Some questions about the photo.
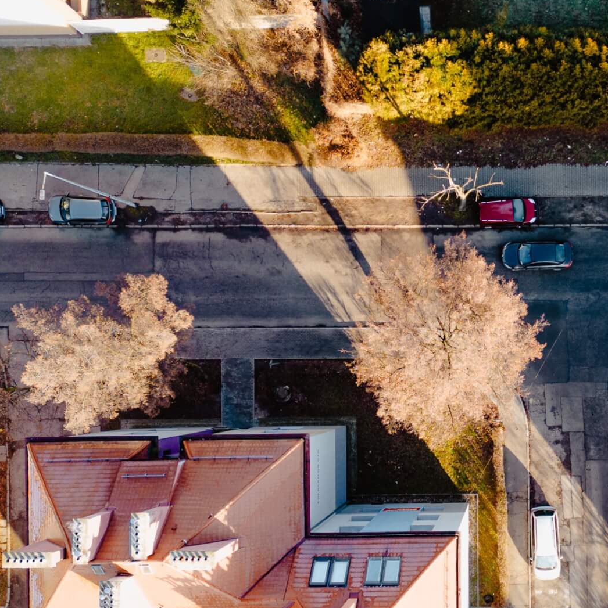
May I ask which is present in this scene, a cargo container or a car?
car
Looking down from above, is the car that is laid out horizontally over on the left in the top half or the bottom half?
top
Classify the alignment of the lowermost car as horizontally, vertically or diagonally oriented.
vertically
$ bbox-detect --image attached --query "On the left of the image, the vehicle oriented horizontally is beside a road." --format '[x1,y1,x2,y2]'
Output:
[50,193,121,226]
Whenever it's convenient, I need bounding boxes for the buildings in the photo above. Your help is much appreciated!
[0,0,90,35]
[3,427,470,608]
